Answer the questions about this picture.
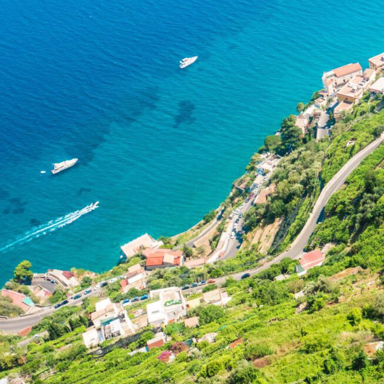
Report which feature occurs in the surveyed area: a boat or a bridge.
boat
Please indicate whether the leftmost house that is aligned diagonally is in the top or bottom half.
bottom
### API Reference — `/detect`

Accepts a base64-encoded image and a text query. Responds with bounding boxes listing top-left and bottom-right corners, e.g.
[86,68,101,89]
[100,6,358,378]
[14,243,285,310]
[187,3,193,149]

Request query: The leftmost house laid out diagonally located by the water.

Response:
[3,287,36,316]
